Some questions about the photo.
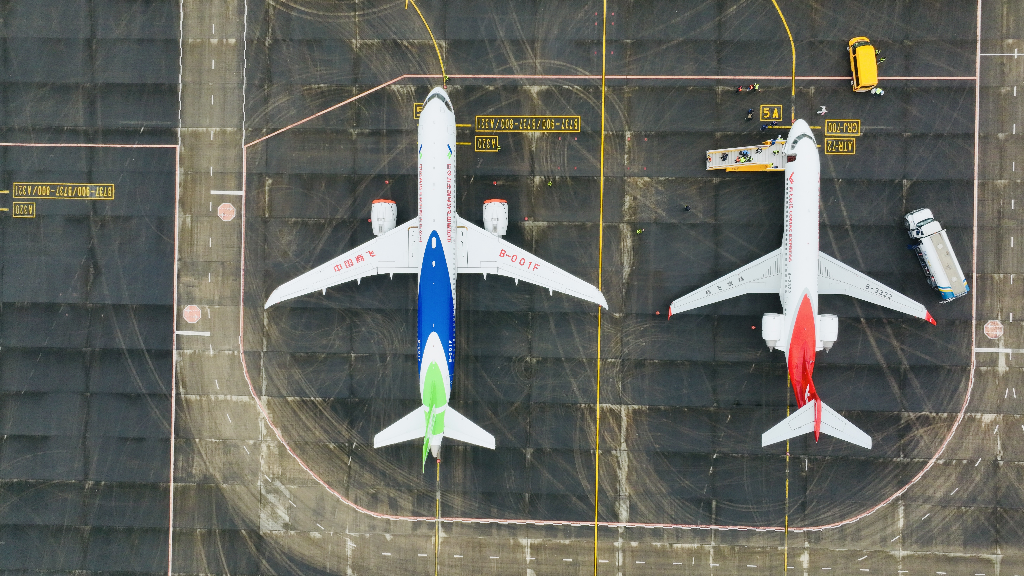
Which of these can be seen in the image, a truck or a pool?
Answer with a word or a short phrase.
truck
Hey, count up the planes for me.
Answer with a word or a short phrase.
2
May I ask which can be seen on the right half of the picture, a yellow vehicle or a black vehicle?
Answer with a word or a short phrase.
yellow vehicle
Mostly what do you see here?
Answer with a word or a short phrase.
paved ground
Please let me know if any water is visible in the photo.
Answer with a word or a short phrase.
No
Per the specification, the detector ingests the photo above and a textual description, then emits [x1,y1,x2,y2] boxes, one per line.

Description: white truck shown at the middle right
[904,207,968,303]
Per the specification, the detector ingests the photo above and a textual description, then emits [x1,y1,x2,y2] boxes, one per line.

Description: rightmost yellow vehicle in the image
[847,37,877,93]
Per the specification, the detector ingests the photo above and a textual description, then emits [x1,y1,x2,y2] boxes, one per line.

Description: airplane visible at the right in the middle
[671,120,937,450]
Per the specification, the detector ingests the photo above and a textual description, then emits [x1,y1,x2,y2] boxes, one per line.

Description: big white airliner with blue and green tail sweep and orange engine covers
[263,87,610,471]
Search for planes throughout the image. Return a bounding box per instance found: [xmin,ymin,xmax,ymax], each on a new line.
[671,120,937,450]
[263,87,610,471]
